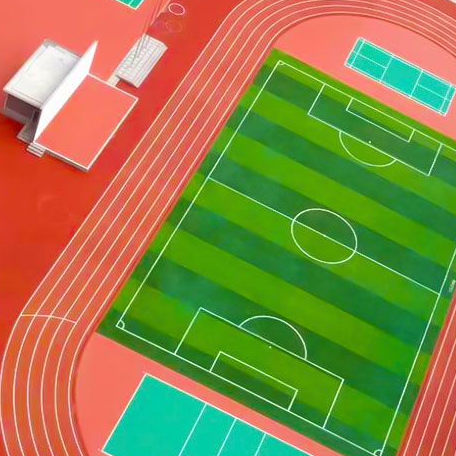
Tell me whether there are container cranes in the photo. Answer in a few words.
No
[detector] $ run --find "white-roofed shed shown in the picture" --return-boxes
[0,37,83,146]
